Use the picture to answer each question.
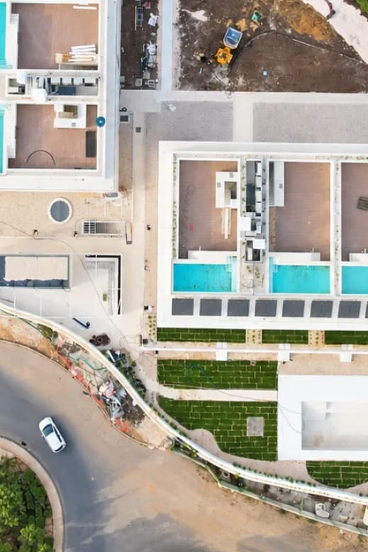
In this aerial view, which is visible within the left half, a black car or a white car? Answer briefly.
white car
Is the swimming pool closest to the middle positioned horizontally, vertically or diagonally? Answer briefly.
horizontally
